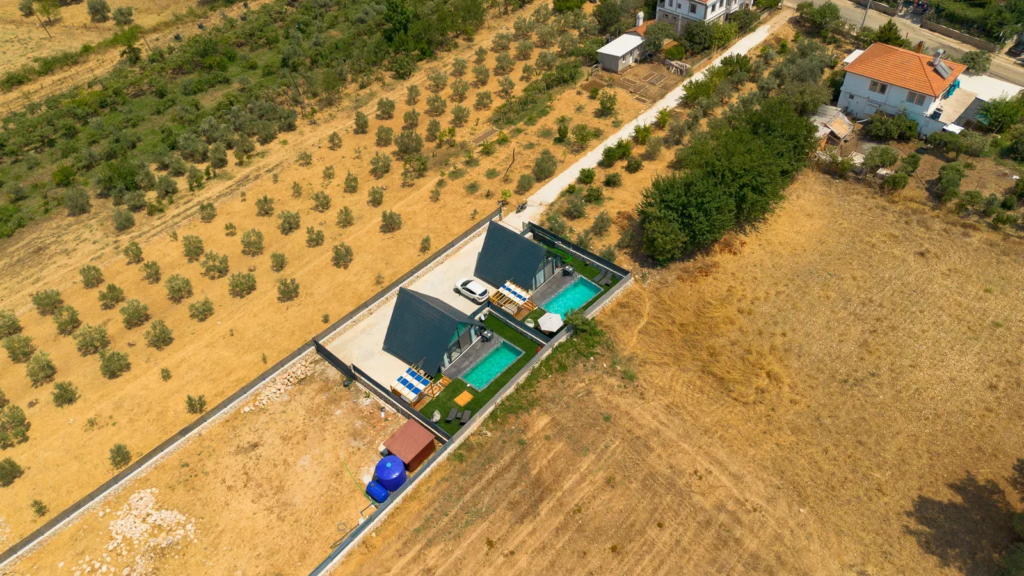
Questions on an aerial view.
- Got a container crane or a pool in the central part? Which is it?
pool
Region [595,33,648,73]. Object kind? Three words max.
shed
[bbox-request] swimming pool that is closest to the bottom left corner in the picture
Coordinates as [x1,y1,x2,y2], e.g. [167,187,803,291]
[458,339,525,392]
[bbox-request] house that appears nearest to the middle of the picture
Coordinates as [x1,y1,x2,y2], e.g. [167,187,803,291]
[473,222,570,303]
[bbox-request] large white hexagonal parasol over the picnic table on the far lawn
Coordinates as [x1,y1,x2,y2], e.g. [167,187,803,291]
[534,310,566,335]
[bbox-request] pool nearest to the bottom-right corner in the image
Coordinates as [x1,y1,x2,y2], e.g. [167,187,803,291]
[542,274,602,320]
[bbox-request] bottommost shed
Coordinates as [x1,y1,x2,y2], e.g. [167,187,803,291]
[383,419,435,474]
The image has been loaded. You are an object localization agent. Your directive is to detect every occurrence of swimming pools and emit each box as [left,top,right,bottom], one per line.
[458,339,525,392]
[542,274,602,320]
